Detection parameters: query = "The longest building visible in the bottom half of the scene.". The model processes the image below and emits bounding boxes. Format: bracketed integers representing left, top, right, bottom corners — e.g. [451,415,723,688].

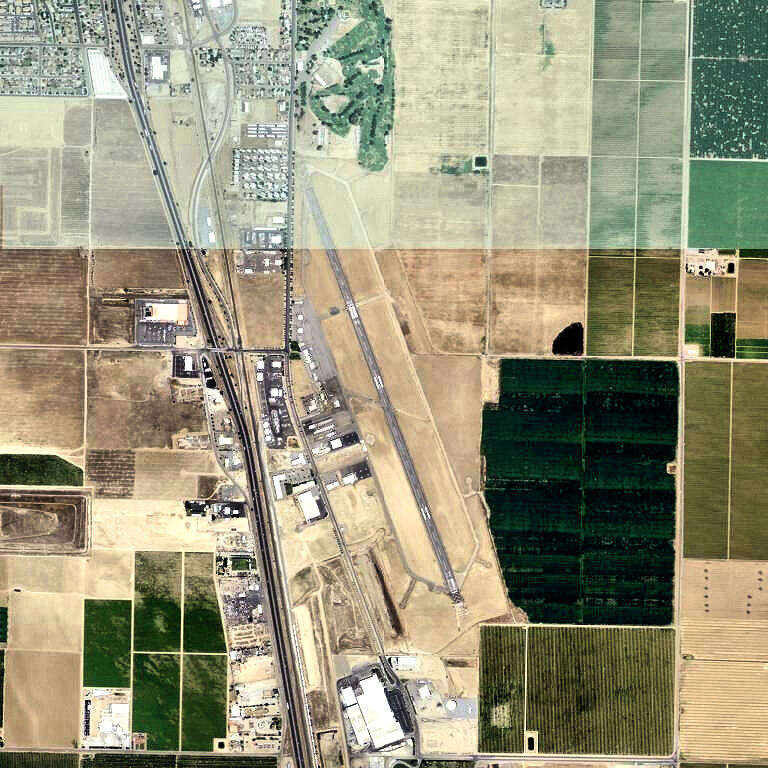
[358,675,405,748]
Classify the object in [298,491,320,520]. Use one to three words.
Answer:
building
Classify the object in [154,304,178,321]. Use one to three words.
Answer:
building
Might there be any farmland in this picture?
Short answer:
Yes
